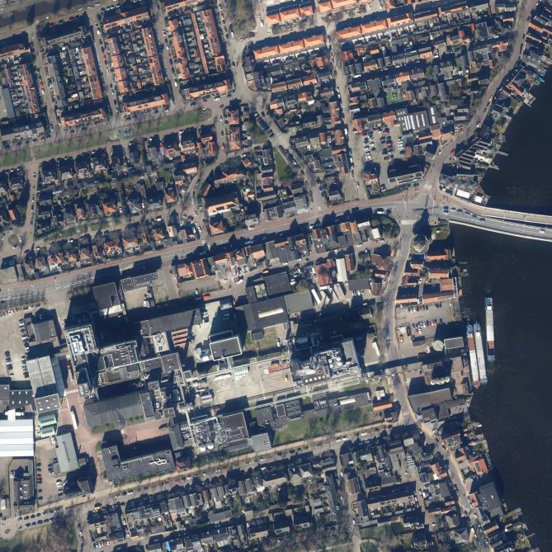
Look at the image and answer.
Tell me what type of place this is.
residential area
